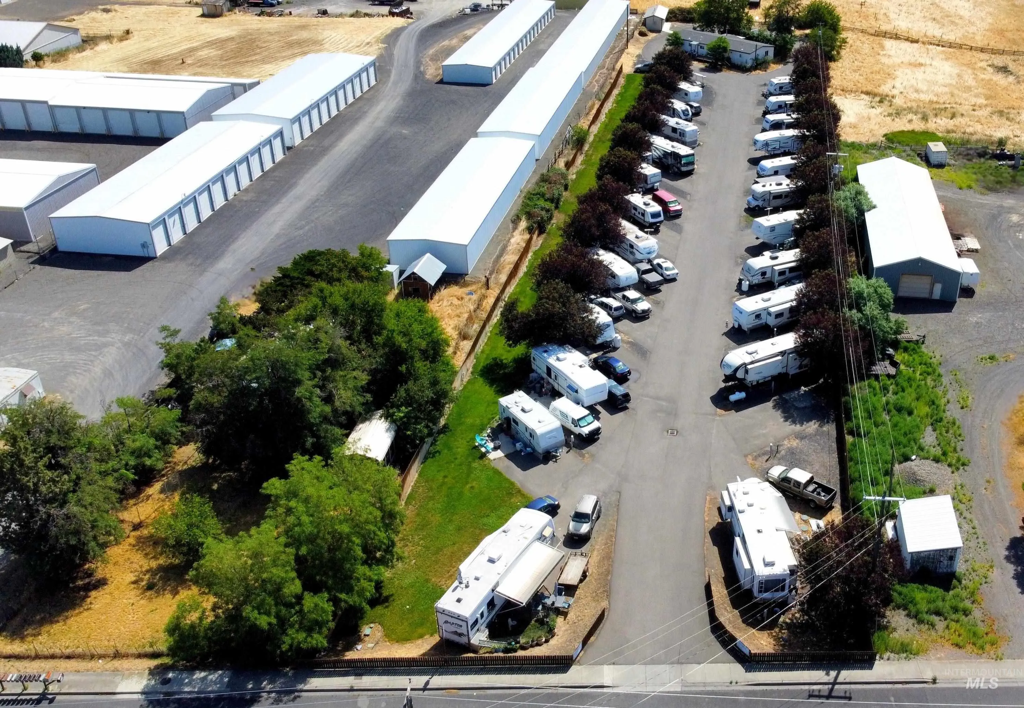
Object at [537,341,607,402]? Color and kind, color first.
white trailer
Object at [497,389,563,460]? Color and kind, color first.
white trailer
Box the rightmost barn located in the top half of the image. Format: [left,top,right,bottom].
[855,155,966,302]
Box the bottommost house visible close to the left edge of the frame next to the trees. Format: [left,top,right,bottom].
[0,369,44,438]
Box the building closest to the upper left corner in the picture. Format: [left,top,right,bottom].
[0,24,88,64]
